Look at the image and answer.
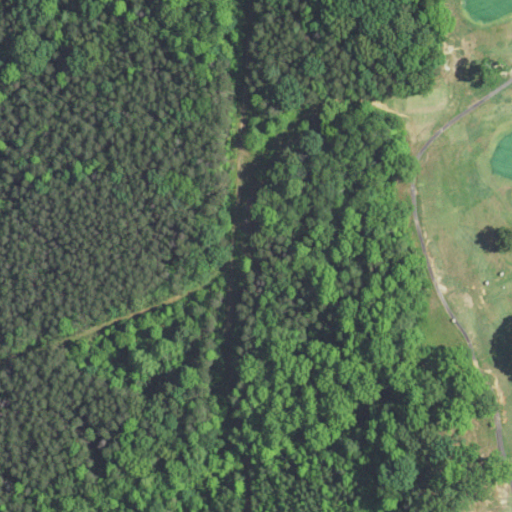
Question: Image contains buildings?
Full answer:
No, the scene contains no building.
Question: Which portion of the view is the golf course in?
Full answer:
The golf course appears toward the right of the photo.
